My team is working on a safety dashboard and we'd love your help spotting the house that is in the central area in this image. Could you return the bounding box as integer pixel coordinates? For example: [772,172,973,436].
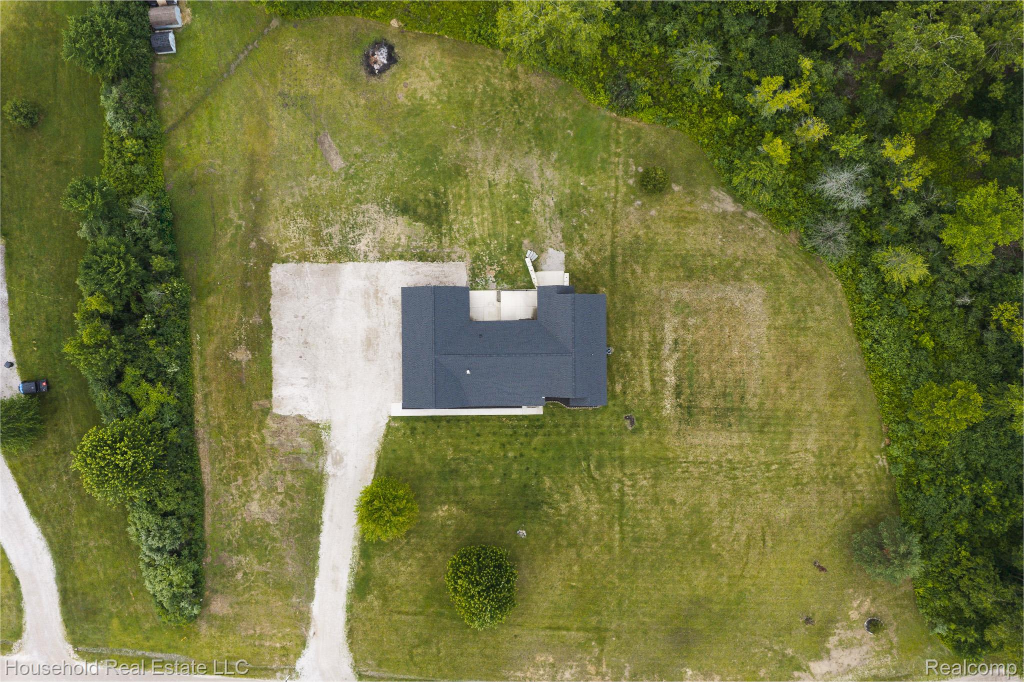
[401,286,608,411]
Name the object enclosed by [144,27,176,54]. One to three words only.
shed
